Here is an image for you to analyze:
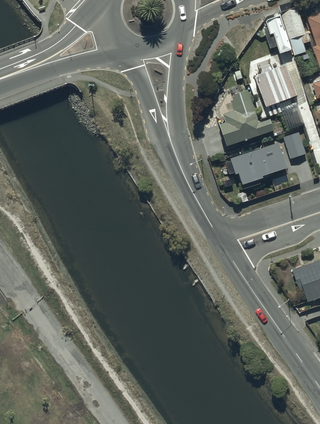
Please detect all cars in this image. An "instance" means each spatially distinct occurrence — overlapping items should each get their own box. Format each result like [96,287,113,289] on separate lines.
[256,308,268,324]
[220,0,236,9]
[261,232,277,240]
[176,42,183,56]
[192,173,202,189]
[242,239,256,248]
[179,5,186,21]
